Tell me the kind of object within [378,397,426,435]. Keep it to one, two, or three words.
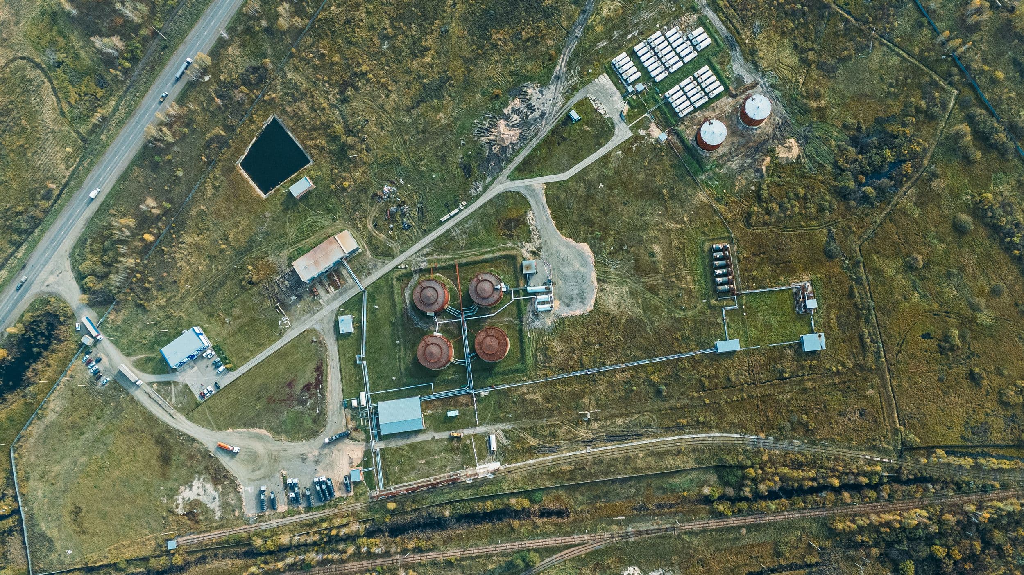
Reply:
building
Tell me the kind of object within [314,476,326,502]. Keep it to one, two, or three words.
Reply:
vehicle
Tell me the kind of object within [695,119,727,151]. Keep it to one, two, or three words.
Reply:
storage tank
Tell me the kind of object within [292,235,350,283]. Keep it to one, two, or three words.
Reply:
building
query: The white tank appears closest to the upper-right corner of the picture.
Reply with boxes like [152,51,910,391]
[739,94,772,127]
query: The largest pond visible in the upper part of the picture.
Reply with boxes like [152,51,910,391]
[236,114,314,198]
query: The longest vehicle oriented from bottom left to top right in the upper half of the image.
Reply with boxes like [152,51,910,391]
[176,58,194,80]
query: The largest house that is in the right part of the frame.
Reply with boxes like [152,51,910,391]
[800,333,826,351]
